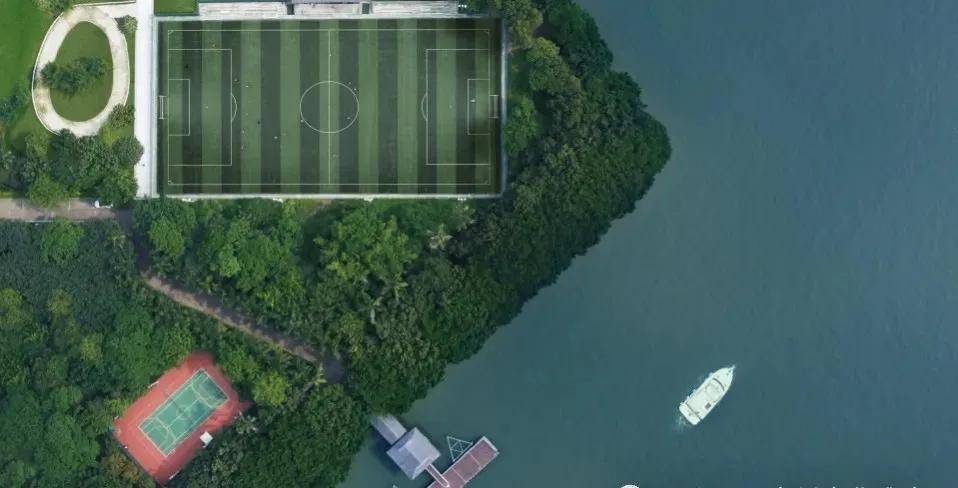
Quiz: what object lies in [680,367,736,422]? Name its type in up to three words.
boat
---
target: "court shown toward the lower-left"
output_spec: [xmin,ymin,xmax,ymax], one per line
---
[113,351,250,486]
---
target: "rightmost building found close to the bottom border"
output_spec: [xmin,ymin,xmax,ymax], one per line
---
[386,429,440,482]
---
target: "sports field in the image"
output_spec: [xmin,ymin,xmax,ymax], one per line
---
[157,20,501,194]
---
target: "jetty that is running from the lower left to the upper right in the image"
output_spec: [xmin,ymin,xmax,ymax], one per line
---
[428,436,500,488]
